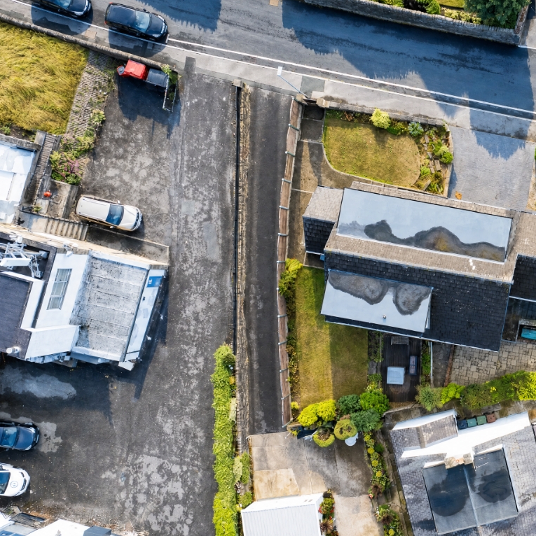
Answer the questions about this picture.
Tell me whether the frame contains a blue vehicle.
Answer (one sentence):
Yes, the picture does show a blue vehicle.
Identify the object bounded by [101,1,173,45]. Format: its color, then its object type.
blue car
